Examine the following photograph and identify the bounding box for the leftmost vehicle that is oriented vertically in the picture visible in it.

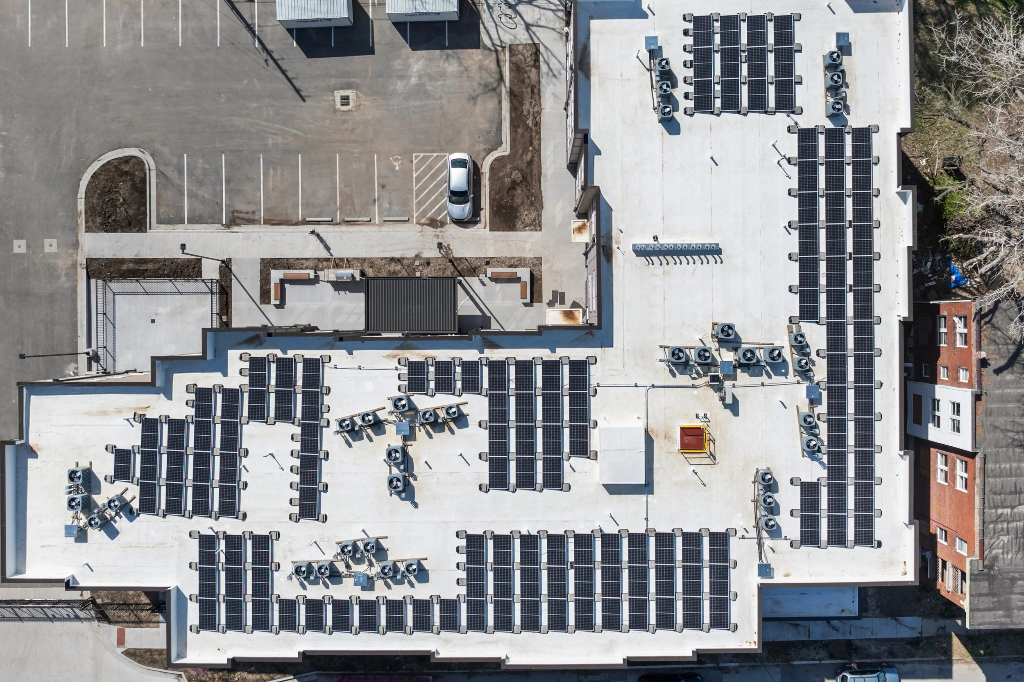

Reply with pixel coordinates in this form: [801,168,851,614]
[444,153,474,220]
